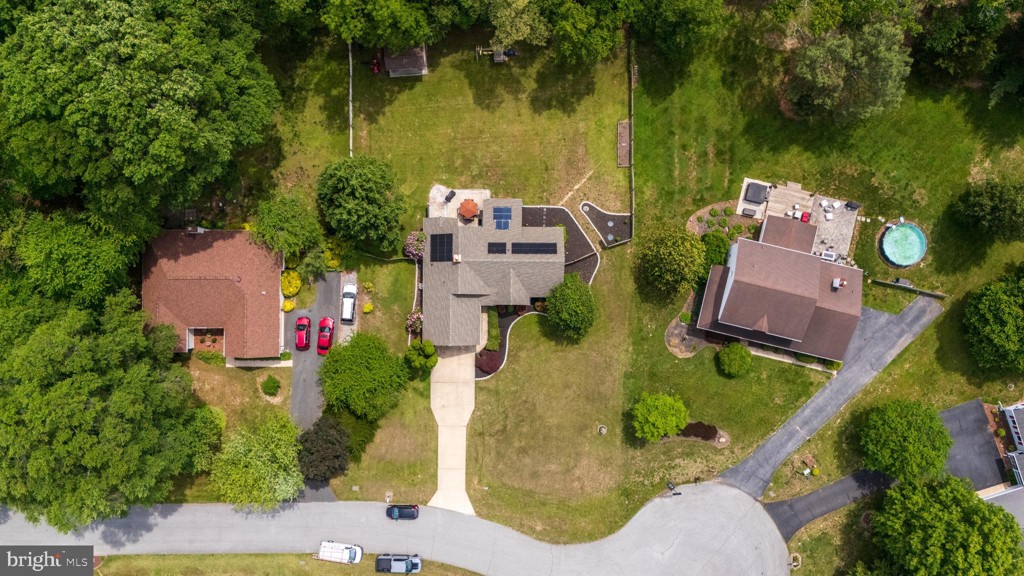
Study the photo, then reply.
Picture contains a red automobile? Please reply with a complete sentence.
Yes, there's a red automobile down there.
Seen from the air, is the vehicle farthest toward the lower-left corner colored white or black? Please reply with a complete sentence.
From above, the vehicle farthest toward the lower-left corner appears white.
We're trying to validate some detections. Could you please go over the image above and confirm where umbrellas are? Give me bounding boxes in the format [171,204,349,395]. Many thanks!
[460,199,477,219]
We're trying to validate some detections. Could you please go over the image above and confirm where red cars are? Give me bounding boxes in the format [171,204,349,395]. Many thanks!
[294,315,313,350]
[317,316,335,355]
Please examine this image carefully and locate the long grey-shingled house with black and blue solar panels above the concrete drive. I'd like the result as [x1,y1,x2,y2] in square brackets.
[422,198,565,346]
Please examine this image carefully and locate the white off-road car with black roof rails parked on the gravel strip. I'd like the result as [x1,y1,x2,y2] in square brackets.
[341,284,360,325]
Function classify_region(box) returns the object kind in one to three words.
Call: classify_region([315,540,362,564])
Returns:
vehicle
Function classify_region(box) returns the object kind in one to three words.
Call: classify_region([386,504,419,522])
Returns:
car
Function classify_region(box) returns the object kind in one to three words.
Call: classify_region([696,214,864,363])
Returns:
house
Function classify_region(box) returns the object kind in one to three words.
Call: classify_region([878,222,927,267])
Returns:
swimming pool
